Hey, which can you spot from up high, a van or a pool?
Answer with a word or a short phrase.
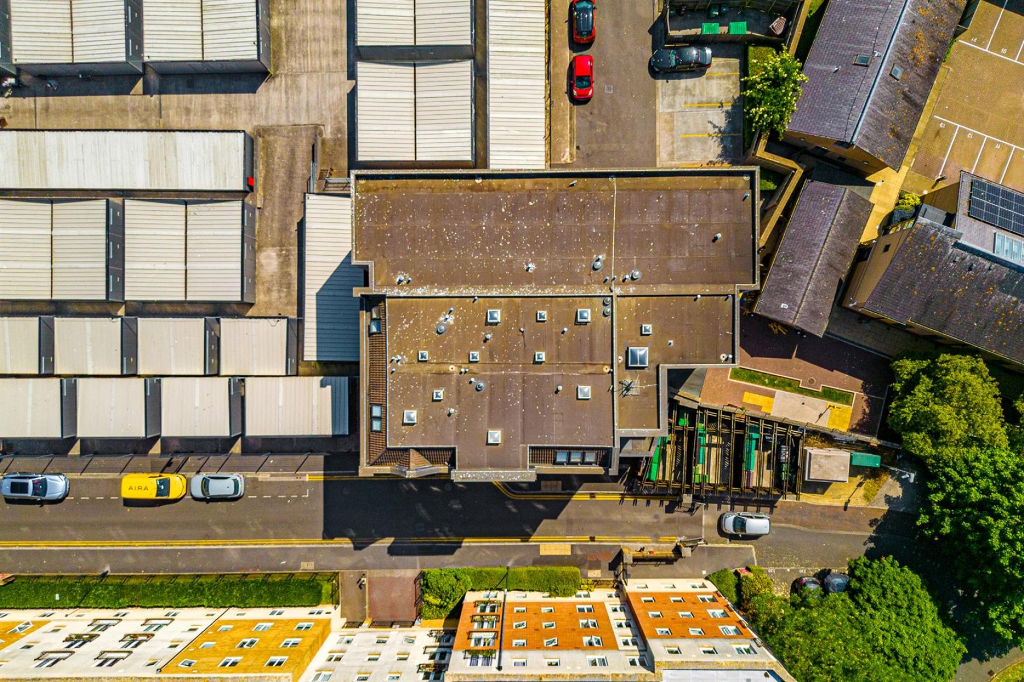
van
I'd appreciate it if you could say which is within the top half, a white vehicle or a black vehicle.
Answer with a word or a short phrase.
black vehicle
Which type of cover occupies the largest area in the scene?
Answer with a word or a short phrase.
buildings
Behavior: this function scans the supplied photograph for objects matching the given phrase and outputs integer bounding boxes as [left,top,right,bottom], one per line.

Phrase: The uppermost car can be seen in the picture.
[570,0,598,45]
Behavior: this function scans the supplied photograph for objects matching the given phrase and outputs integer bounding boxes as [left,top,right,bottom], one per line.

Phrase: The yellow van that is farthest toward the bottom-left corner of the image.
[121,473,189,502]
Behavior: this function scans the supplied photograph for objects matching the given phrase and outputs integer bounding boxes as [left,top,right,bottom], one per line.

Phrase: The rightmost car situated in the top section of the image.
[648,44,711,75]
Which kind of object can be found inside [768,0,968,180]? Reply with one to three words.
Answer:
house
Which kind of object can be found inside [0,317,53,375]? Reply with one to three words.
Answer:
building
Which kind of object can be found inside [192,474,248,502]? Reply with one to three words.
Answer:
car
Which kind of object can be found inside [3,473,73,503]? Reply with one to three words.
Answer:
car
